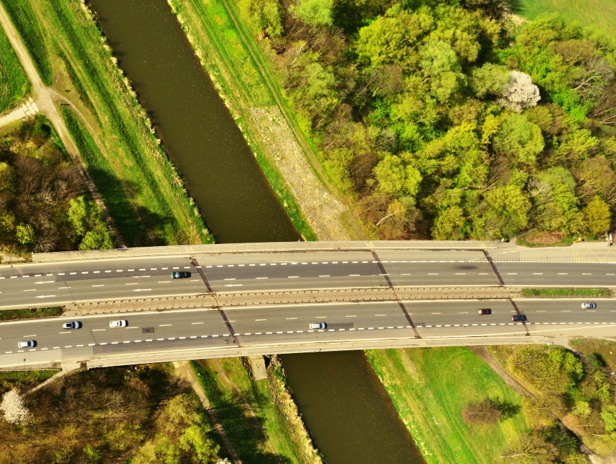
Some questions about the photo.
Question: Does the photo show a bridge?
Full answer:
Yes, a bridge can be made out from above.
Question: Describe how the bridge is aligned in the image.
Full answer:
The bridge has been laid out horizontally relative to the frame.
